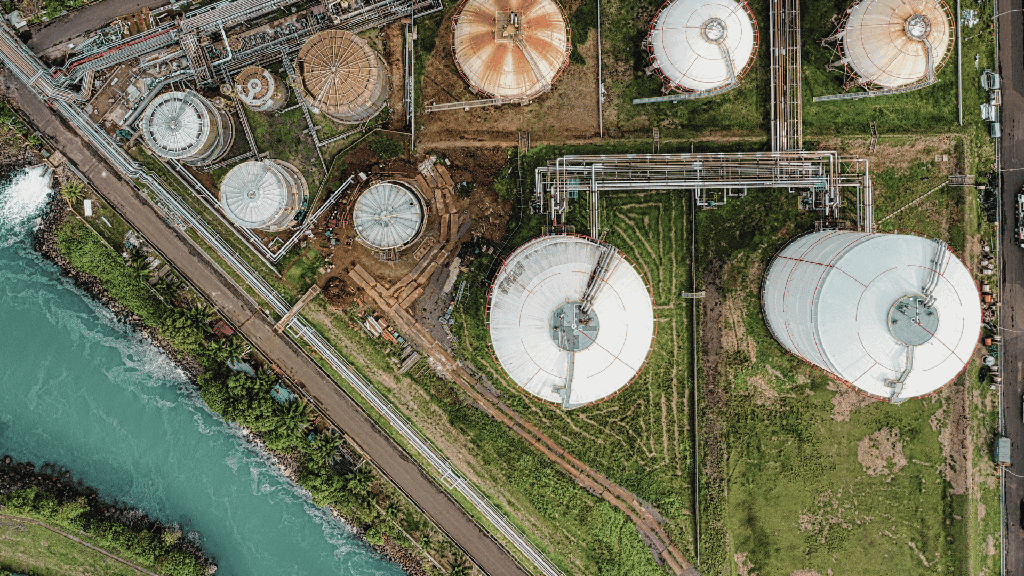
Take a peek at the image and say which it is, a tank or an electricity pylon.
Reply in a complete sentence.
The image shows a tank.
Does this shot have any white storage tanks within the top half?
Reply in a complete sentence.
Yes, a white storage tank can be seen within the top half.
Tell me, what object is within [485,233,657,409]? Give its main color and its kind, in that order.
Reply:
white storage tank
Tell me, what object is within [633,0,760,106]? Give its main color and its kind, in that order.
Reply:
white storage tank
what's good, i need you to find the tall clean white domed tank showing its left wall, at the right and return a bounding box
[761,227,981,403]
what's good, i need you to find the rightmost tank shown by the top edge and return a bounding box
[814,0,958,103]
